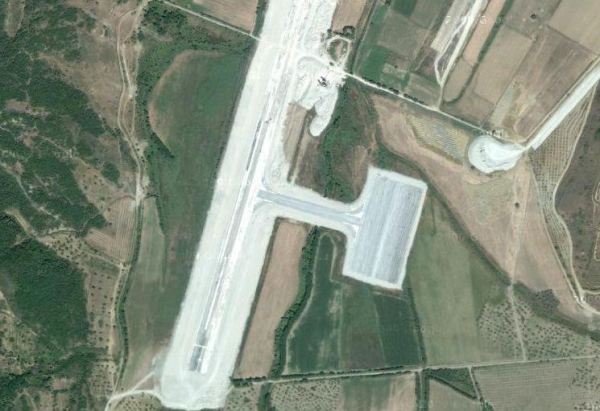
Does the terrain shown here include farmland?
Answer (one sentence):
Yes, there is farmland in the image.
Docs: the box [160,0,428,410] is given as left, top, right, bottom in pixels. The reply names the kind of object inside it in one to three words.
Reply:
airport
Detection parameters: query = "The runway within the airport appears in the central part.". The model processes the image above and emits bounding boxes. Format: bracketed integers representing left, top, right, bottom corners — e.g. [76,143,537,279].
[190,0,296,371]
